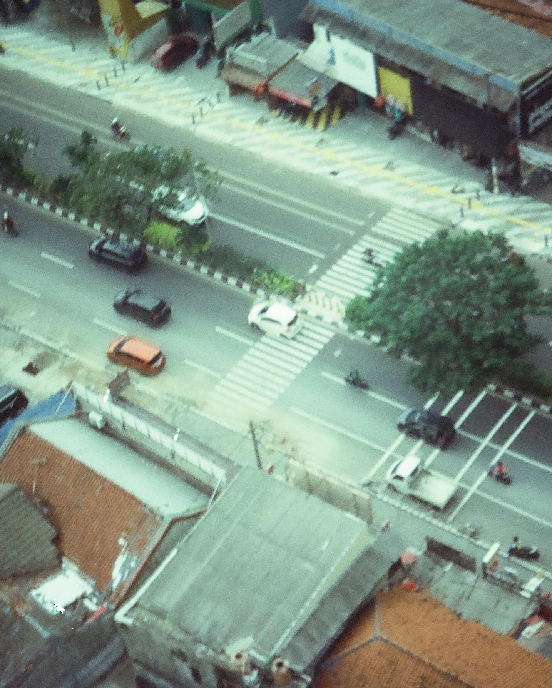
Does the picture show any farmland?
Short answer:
No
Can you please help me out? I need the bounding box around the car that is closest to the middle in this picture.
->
[248,305,302,342]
